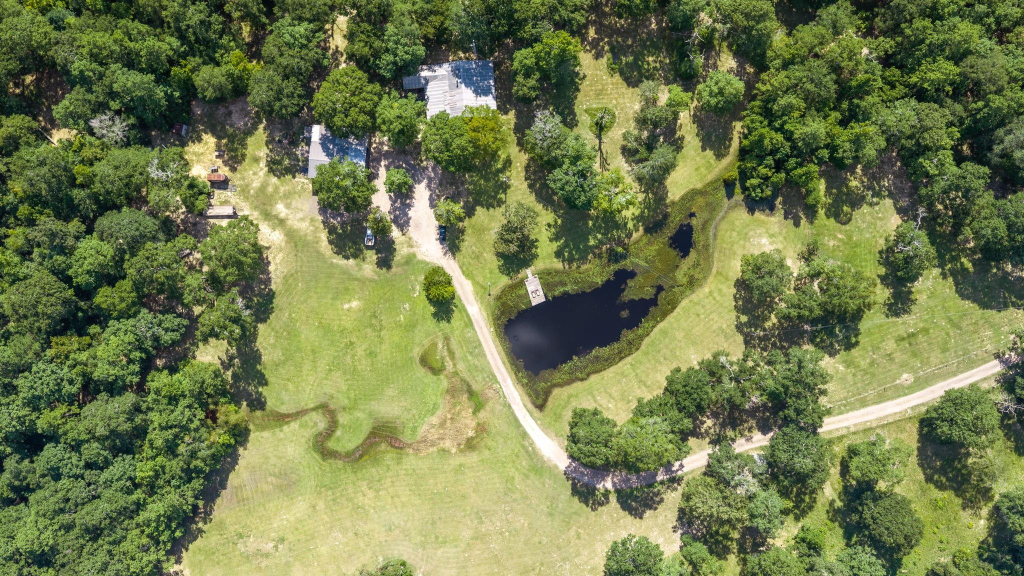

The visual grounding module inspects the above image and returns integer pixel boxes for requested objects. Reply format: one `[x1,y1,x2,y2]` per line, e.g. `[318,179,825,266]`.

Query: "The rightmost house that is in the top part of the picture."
[404,60,497,120]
